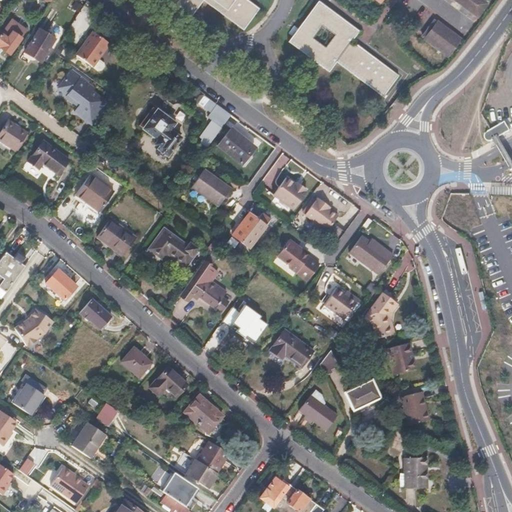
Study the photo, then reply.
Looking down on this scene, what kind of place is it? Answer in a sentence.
The picture captures a residential area.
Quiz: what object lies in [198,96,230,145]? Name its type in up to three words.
building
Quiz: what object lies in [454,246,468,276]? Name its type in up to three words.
vehicle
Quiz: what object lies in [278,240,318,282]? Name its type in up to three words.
house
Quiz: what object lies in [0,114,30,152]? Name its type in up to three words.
house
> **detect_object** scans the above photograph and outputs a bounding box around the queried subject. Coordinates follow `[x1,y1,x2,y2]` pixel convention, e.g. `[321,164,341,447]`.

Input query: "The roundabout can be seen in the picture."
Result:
[366,132,441,206]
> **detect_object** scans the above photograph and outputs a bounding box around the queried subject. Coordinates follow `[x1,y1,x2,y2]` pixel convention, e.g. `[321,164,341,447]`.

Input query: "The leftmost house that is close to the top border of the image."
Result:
[0,19,28,56]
